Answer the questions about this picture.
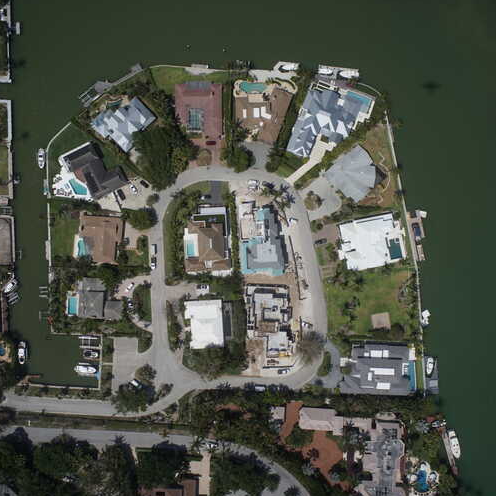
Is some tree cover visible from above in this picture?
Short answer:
Yes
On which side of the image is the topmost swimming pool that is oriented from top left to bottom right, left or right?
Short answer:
right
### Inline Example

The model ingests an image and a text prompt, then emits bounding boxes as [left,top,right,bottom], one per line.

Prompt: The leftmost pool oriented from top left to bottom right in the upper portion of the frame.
[69,177,88,195]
